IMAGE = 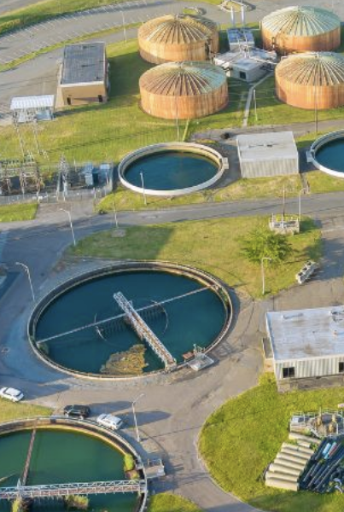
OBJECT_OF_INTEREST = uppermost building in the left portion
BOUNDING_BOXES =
[52,40,110,104]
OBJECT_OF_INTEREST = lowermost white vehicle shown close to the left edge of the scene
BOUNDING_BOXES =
[0,387,25,402]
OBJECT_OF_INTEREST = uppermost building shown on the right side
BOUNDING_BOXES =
[204,5,278,92]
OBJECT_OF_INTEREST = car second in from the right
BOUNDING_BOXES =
[59,403,91,419]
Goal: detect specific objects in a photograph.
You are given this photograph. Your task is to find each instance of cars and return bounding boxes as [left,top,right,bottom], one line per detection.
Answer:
[94,411,125,431]
[0,387,25,402]
[59,403,91,419]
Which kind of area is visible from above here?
industrial area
